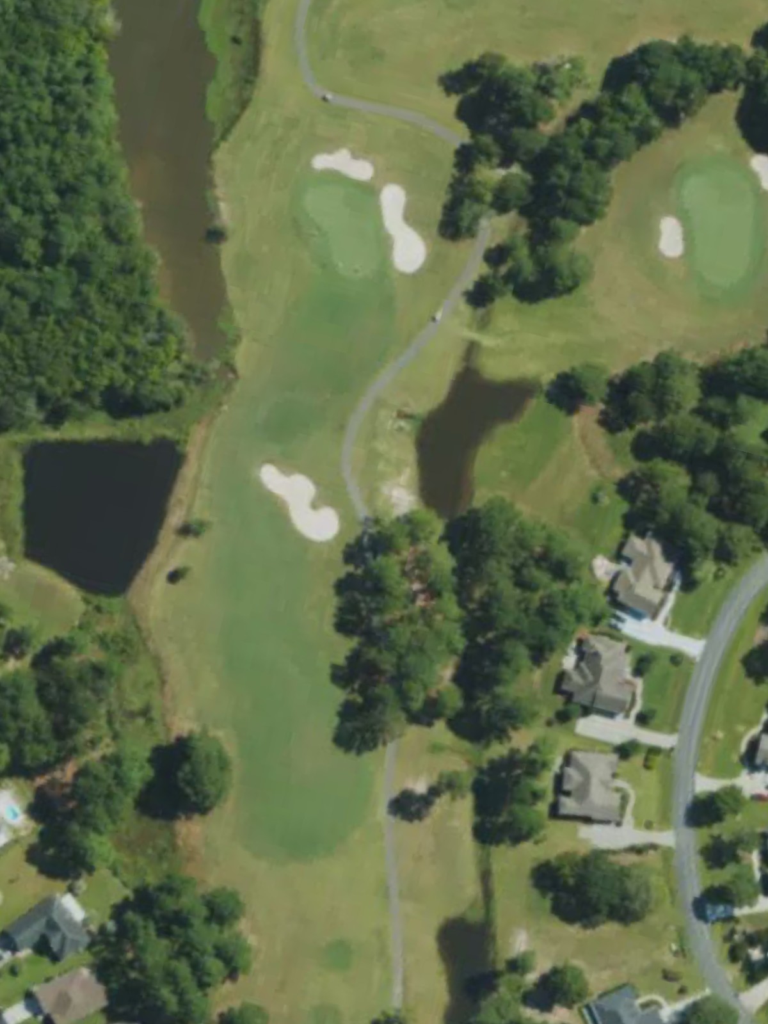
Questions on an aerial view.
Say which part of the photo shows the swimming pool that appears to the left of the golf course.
bottom left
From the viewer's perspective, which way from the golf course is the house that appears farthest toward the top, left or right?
to the right of it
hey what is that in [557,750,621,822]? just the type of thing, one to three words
house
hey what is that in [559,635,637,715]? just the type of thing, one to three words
house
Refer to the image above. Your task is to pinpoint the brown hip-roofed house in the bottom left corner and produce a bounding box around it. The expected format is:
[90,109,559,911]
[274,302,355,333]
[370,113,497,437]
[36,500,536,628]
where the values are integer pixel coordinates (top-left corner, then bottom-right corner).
[33,964,109,1024]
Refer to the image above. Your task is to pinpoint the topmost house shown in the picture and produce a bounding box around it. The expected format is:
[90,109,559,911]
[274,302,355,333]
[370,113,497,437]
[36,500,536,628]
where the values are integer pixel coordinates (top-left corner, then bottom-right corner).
[607,531,672,620]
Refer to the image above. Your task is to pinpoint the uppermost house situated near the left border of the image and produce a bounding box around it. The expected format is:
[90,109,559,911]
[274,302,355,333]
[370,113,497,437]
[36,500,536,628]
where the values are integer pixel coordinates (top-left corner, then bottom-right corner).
[0,893,92,966]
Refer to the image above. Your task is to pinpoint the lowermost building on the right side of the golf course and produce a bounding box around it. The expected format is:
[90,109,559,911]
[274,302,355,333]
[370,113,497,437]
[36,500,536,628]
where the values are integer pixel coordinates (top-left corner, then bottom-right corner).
[586,985,672,1024]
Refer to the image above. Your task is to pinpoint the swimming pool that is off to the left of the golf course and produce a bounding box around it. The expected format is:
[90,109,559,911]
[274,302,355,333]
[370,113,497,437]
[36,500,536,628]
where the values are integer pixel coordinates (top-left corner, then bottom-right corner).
[0,789,25,847]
